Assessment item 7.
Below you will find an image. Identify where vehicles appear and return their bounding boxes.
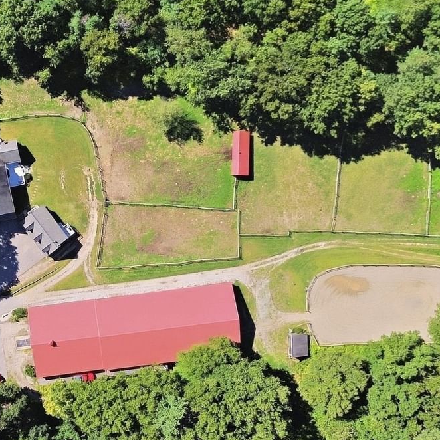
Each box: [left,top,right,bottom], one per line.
[76,374,94,382]
[153,364,171,373]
